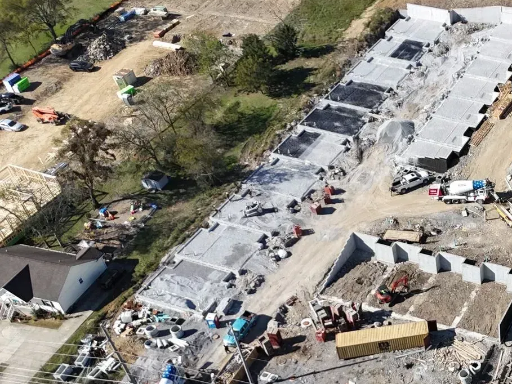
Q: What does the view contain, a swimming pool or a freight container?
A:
freight container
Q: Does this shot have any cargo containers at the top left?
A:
No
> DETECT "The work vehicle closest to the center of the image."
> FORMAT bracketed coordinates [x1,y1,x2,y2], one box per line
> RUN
[235,198,265,220]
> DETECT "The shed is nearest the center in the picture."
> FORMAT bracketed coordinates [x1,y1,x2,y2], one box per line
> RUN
[143,165,169,188]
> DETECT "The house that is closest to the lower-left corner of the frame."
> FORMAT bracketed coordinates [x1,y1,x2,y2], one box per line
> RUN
[0,238,114,329]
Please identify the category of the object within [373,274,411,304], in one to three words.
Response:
work vehicle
